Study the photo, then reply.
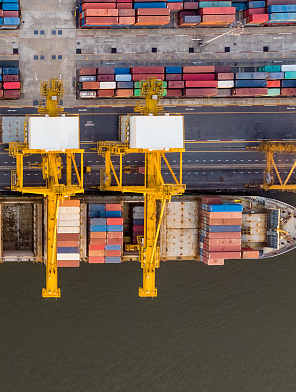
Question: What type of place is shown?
port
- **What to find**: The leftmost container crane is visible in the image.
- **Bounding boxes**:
[2,78,86,299]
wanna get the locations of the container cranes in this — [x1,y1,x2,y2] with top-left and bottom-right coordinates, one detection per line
[89,78,187,299]
[242,140,296,196]
[2,78,86,299]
